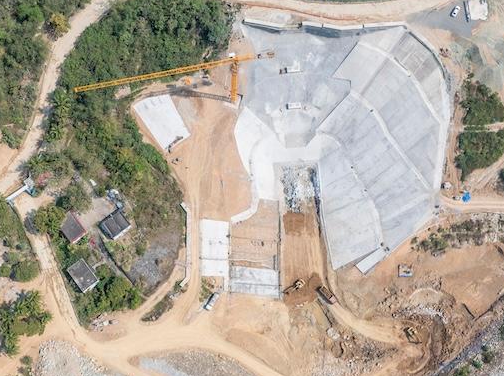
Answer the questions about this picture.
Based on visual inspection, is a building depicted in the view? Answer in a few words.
Yes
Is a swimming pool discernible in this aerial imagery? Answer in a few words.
No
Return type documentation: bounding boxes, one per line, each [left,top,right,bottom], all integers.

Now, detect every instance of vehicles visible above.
[406,324,418,346]
[449,3,462,18]
[204,291,218,310]
[317,282,338,303]
[286,278,307,293]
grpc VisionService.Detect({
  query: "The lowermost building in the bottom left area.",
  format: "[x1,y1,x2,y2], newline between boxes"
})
[66,258,99,292]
